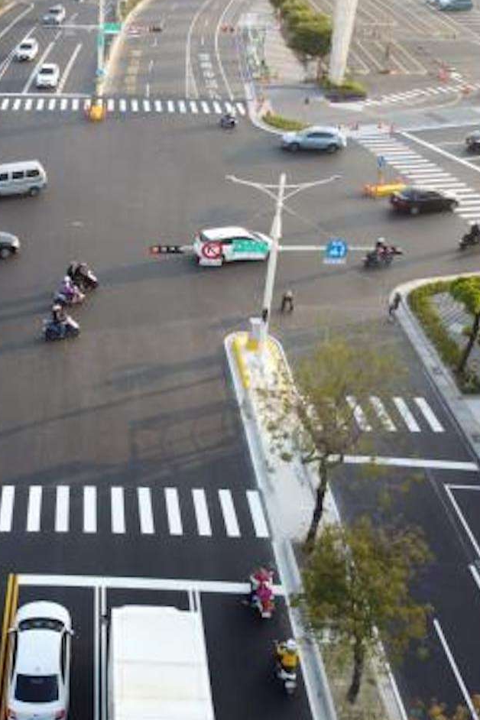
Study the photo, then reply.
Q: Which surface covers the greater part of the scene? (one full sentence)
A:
For the most part, this view shows paved ground.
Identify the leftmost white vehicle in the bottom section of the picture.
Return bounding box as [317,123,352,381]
[5,599,78,720]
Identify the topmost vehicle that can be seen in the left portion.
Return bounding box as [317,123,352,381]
[44,6,64,23]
